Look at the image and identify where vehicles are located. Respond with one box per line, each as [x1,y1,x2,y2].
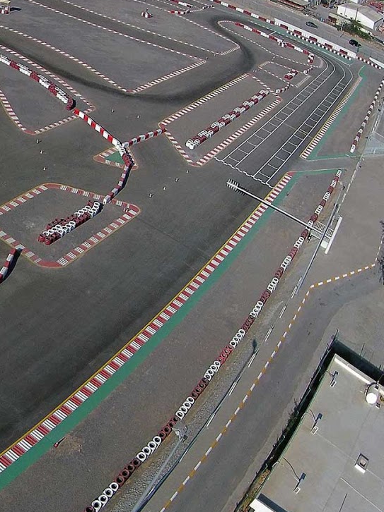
[349,39,363,47]
[305,21,319,30]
